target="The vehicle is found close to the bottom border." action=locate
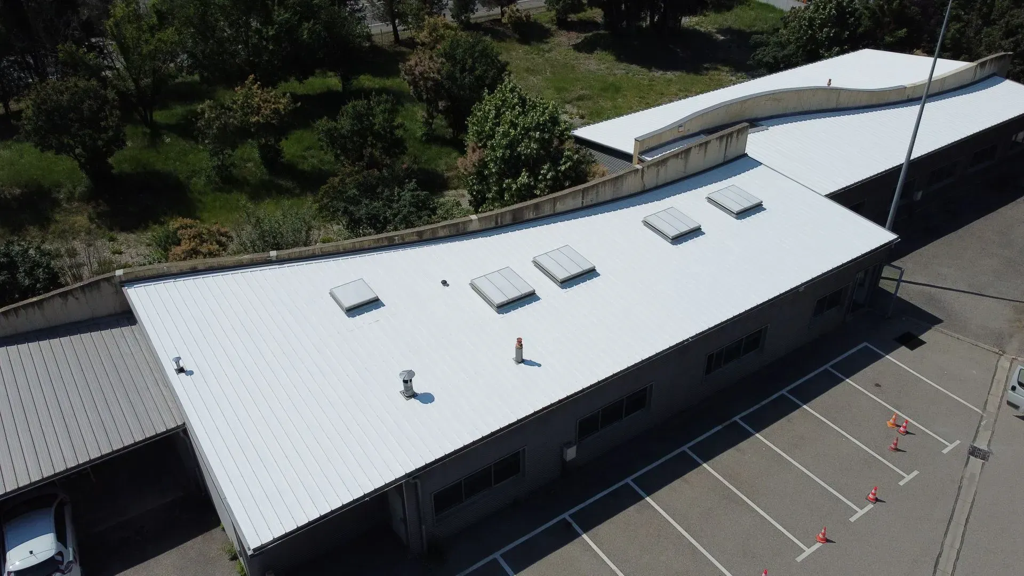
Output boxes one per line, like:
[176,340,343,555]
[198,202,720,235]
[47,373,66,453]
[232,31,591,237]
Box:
[0,490,82,576]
